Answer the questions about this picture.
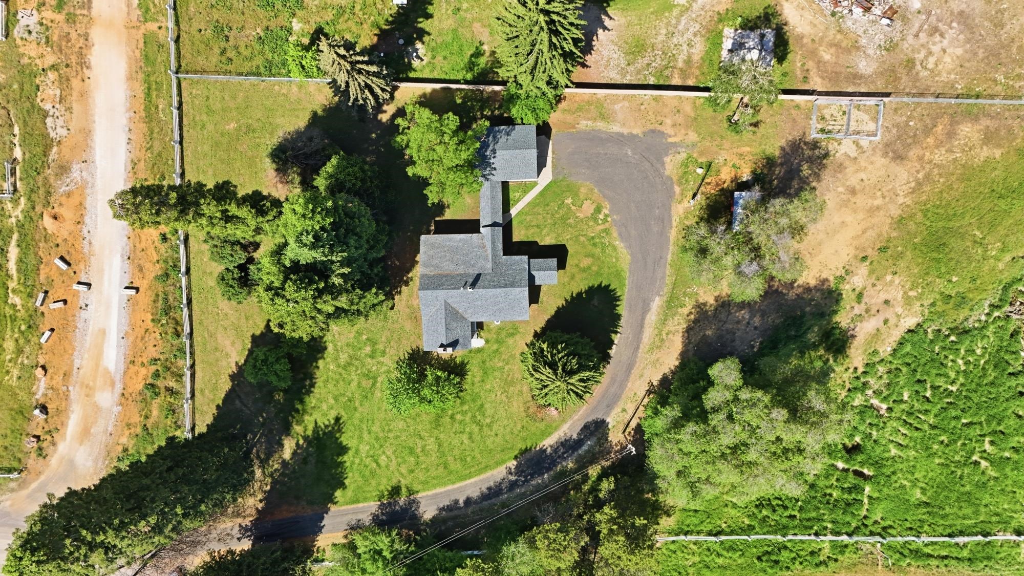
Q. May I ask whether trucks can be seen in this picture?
No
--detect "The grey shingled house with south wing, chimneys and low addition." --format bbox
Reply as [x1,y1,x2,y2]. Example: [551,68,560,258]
[419,226,558,354]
